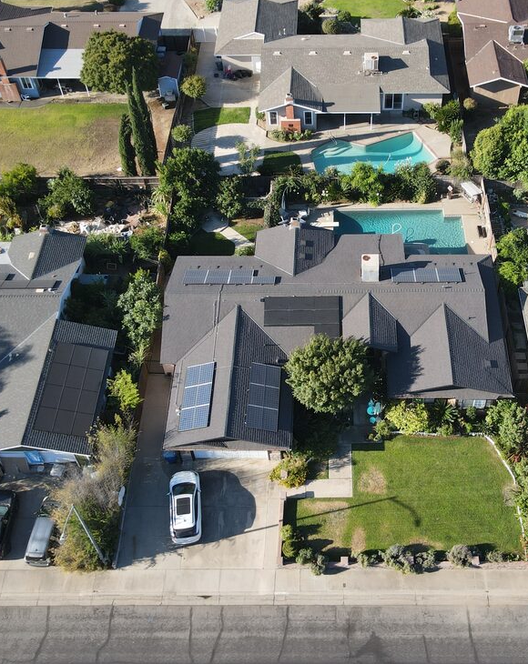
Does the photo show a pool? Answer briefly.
Yes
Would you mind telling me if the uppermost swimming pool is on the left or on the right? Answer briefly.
right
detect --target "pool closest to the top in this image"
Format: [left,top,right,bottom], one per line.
[307,129,441,176]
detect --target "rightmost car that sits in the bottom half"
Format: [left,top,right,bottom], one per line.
[164,474,203,550]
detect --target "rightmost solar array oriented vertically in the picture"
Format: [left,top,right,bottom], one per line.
[246,361,281,430]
